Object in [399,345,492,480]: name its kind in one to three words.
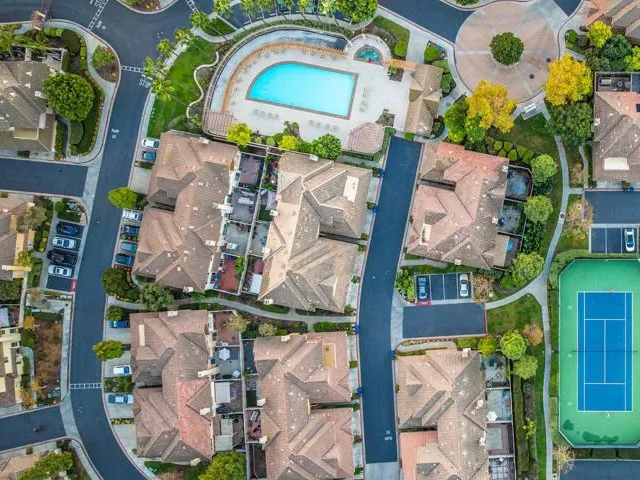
house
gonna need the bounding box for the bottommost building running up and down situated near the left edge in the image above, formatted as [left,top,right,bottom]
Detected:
[0,325,37,405]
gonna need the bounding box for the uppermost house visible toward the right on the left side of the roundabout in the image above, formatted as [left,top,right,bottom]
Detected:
[403,64,442,138]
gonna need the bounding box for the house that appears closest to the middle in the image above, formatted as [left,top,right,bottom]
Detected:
[254,152,374,312]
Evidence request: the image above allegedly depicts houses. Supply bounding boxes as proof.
[254,152,374,312]
[590,91,640,182]
[585,0,640,46]
[0,447,80,480]
[253,331,358,480]
[130,308,236,464]
[406,142,510,269]
[399,345,492,480]
[131,130,250,293]
[0,197,53,278]
[403,64,442,138]
[0,325,37,405]
[0,60,78,156]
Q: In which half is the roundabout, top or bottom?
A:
top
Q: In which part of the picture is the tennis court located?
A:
bottom right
